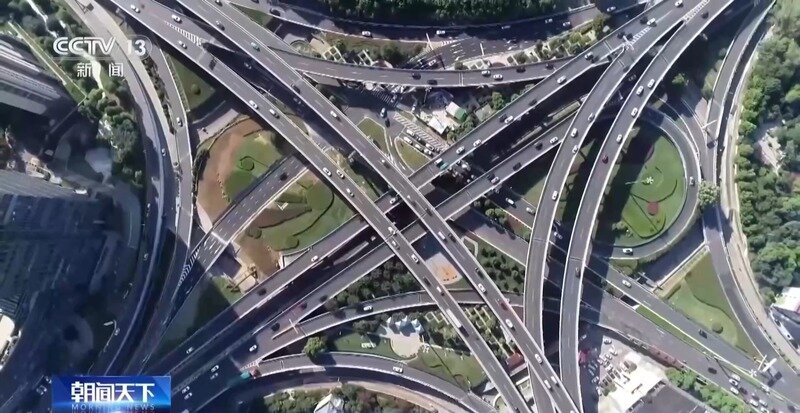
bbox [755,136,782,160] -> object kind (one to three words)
building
